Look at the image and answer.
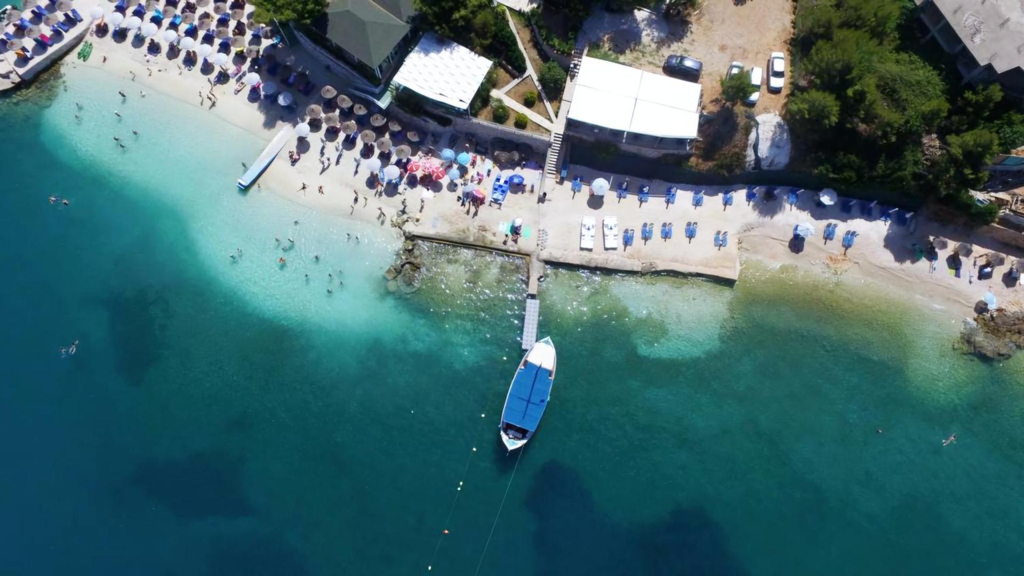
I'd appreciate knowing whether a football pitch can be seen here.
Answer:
No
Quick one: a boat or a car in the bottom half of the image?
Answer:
boat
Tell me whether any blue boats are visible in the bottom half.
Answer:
Yes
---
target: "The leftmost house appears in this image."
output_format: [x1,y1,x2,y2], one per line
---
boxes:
[326,0,415,80]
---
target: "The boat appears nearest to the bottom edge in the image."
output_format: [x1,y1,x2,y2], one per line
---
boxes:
[500,337,554,453]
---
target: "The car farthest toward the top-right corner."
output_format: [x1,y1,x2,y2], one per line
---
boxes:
[767,54,784,91]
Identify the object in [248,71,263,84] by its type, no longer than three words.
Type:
umbrella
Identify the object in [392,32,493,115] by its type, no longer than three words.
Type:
building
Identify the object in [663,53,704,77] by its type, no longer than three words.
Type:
car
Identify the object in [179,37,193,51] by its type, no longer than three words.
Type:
umbrella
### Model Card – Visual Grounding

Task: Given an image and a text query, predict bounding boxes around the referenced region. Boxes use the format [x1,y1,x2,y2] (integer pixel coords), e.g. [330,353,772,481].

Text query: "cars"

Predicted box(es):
[725,62,747,95]
[767,54,784,91]
[745,66,764,104]
[663,53,704,77]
